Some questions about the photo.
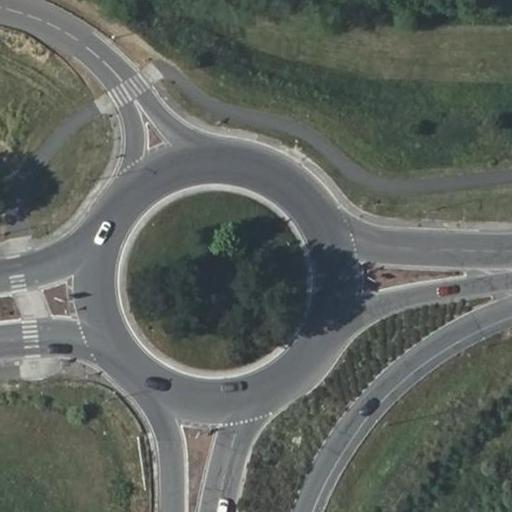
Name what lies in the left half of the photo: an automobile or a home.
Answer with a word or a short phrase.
automobile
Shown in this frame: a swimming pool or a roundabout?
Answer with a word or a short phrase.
roundabout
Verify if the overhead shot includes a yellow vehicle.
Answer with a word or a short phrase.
No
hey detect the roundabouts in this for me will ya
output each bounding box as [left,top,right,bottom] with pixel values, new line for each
[73,139,358,424]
